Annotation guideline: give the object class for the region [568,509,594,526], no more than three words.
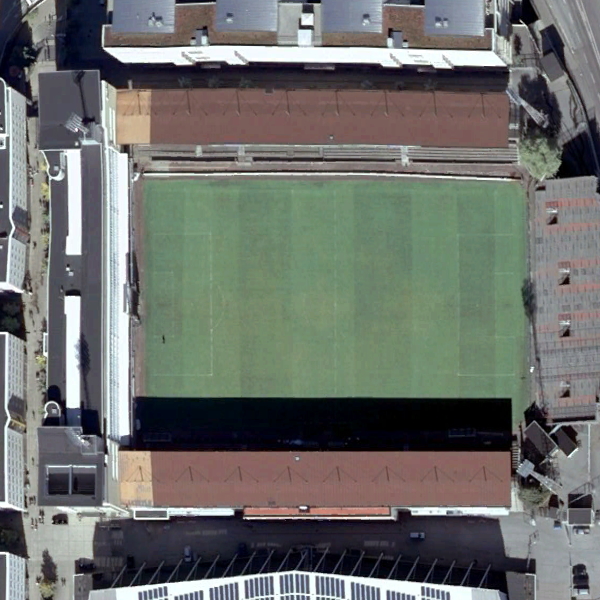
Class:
shed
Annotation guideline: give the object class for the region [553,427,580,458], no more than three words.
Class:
shed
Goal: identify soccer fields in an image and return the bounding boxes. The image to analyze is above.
[138,179,527,445]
